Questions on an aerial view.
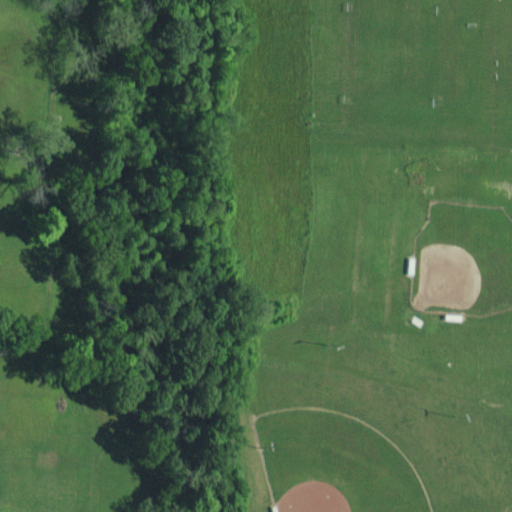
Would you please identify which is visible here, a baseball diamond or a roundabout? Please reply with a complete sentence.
I can see a baseball diamond in this picture.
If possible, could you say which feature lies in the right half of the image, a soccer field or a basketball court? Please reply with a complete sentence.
There is a soccer field in the right half of the image.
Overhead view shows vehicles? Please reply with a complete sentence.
No, there isn't any vehicle down there.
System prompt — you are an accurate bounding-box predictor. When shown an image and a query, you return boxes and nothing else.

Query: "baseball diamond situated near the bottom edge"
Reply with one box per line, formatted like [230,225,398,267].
[252,406,434,512]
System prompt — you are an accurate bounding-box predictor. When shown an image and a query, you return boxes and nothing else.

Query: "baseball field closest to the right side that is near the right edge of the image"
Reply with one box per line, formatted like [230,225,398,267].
[410,201,512,318]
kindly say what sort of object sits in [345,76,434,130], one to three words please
soccer field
